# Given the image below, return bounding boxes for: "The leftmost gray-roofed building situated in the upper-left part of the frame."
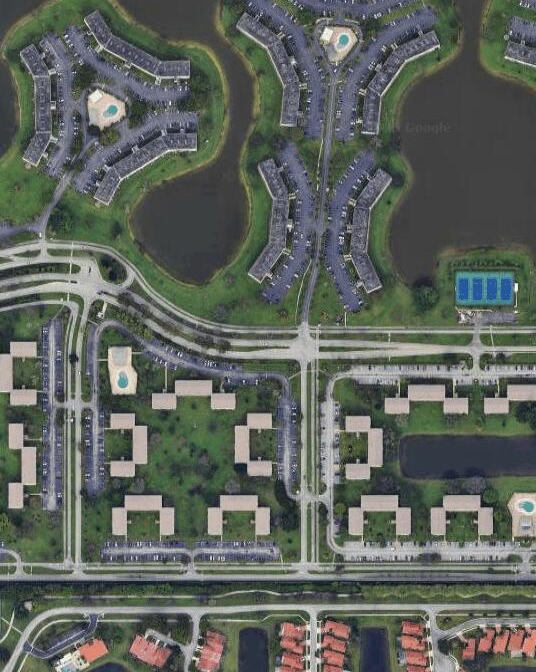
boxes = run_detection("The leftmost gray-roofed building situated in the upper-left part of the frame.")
[19,43,58,165]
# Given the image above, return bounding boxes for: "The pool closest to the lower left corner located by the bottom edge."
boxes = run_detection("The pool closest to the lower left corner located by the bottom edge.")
[56,652,90,672]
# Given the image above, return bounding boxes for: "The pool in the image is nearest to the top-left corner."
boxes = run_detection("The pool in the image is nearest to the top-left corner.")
[88,89,126,130]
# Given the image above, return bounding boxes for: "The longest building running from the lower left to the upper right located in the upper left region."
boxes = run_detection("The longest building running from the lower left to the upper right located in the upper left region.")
[91,127,198,205]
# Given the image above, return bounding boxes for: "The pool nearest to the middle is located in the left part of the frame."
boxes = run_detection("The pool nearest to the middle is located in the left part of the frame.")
[108,348,137,395]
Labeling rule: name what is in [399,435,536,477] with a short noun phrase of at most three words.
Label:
pond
